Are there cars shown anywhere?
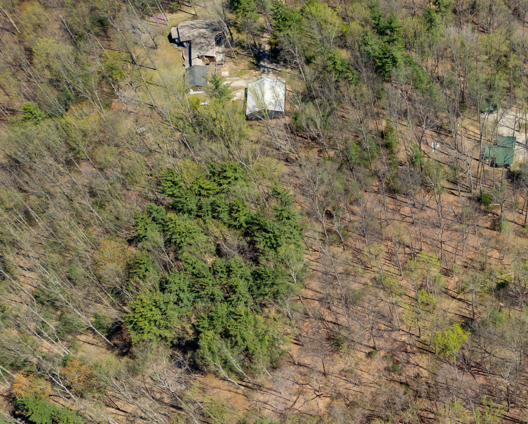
No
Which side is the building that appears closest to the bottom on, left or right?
right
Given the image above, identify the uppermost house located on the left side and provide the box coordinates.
[168,18,228,72]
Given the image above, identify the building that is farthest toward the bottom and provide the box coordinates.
[483,136,519,172]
